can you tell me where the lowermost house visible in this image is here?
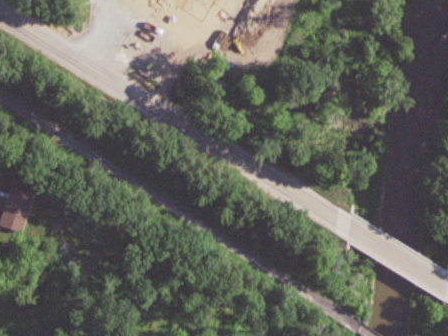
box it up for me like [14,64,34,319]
[0,190,34,232]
